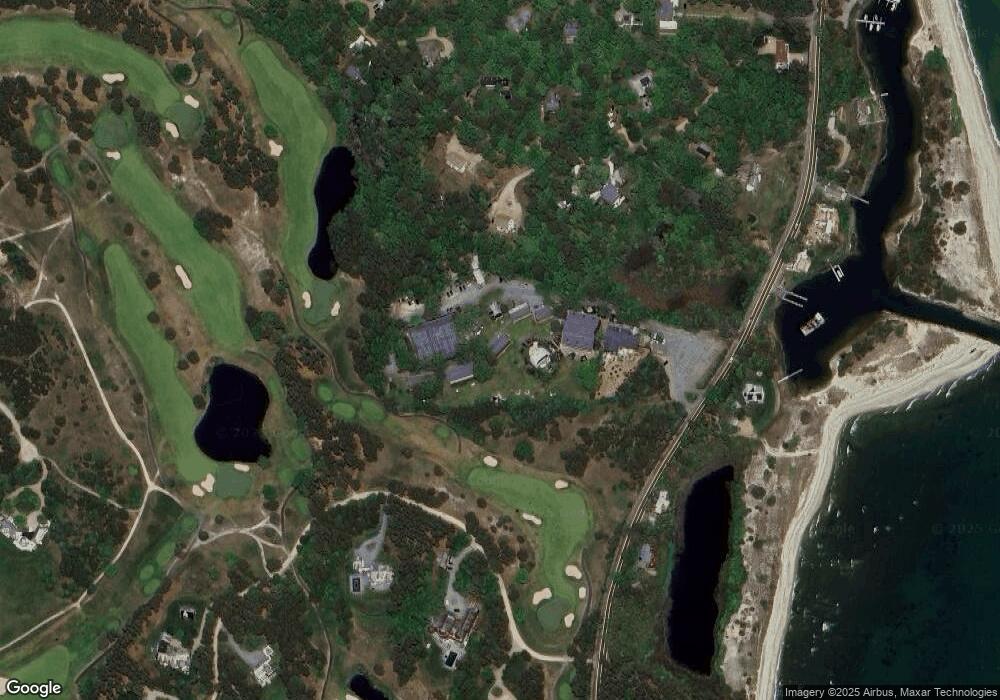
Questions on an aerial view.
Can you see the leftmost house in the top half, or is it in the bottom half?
bottom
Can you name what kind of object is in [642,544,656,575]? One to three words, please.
house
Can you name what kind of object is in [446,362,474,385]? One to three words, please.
building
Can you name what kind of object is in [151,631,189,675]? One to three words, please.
house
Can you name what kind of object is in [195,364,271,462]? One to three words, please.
pond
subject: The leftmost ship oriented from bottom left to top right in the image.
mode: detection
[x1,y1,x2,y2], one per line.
[800,312,825,337]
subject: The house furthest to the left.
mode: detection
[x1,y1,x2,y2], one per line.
[0,512,50,554]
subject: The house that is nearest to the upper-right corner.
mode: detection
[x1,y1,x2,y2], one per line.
[857,98,887,123]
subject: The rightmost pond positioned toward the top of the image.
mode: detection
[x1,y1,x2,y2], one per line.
[309,147,357,279]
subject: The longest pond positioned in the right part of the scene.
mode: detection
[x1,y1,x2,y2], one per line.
[669,466,732,673]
